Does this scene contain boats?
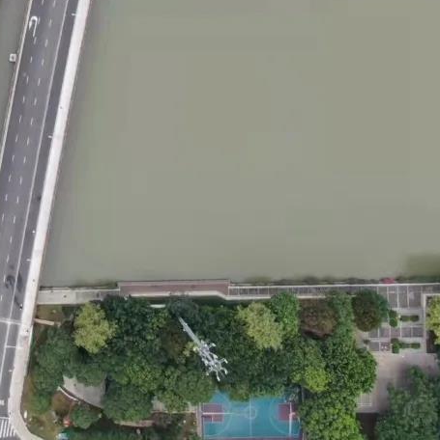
No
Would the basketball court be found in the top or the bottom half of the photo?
bottom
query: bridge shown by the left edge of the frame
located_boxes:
[0,0,91,325]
